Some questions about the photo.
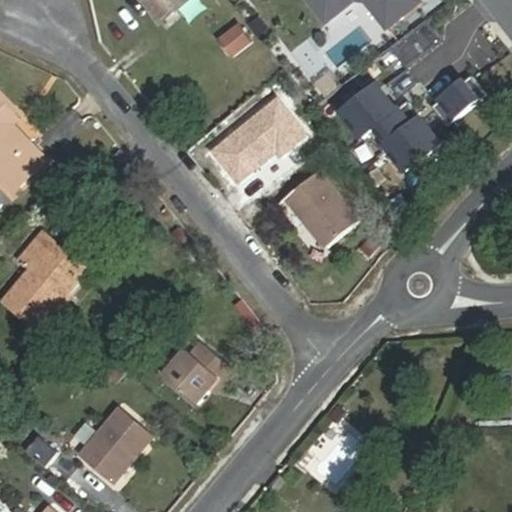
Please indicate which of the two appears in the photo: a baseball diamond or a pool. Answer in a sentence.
The image shows a pool.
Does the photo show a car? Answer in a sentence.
Yes, the image includes a car.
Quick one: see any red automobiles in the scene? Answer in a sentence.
Yes, the frame does contain a red automobile.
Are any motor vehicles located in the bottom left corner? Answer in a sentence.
Yes, a motor vehicle is visible in the bottom left corner.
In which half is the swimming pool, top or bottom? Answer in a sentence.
Seen from above, the swimming pool lies in the top half of the view.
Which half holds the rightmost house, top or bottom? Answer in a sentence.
You can find the rightmost house in the top half.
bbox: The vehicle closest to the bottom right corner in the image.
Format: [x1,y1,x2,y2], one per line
[272,271,290,288]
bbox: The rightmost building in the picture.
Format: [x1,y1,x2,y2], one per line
[433,76,480,128]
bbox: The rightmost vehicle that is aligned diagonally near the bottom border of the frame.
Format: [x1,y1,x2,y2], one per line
[84,472,105,491]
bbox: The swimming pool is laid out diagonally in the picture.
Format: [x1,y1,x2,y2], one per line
[324,24,373,67]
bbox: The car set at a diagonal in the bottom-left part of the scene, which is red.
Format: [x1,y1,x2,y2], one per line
[53,491,74,511]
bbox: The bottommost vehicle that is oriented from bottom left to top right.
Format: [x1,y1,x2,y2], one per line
[244,178,264,196]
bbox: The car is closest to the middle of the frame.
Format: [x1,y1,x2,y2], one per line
[245,236,262,256]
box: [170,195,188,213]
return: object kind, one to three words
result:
car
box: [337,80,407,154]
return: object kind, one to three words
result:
house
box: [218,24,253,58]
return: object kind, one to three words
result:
shed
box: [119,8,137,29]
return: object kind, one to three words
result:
vehicle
